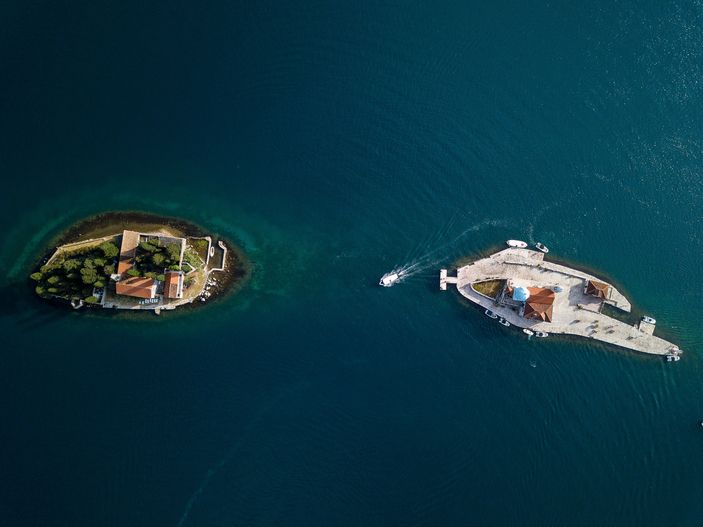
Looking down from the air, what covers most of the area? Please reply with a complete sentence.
The largest share of the image is taken up by water.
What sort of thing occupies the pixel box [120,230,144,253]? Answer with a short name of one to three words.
house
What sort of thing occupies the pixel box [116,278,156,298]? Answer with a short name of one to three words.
house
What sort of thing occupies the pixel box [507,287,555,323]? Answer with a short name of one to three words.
building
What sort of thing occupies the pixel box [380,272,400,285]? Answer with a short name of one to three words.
boat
